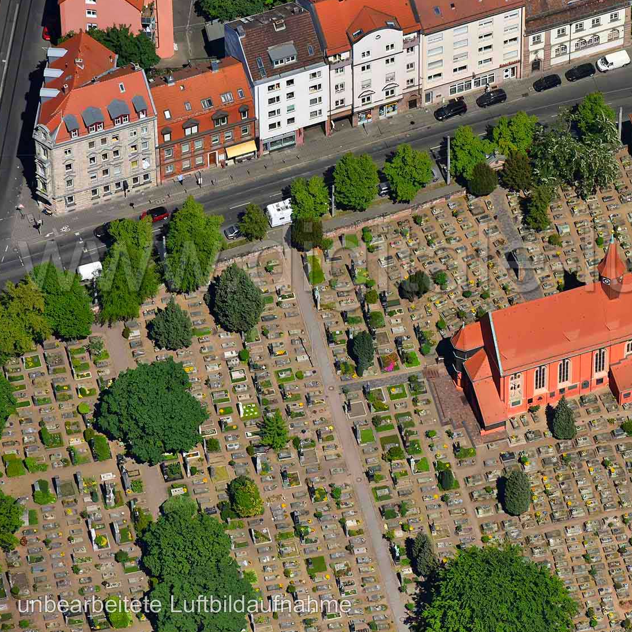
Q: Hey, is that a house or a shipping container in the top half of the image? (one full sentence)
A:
What appears in the top half of the image is a house.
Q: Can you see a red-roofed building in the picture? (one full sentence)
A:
Yes, looking at the shot, I can spot a red-roofed building.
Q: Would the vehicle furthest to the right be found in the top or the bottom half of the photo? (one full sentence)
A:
The vehicle furthest to the right is in the top half of the image.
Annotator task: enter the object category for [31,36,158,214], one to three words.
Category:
house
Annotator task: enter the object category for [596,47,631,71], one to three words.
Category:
vehicle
